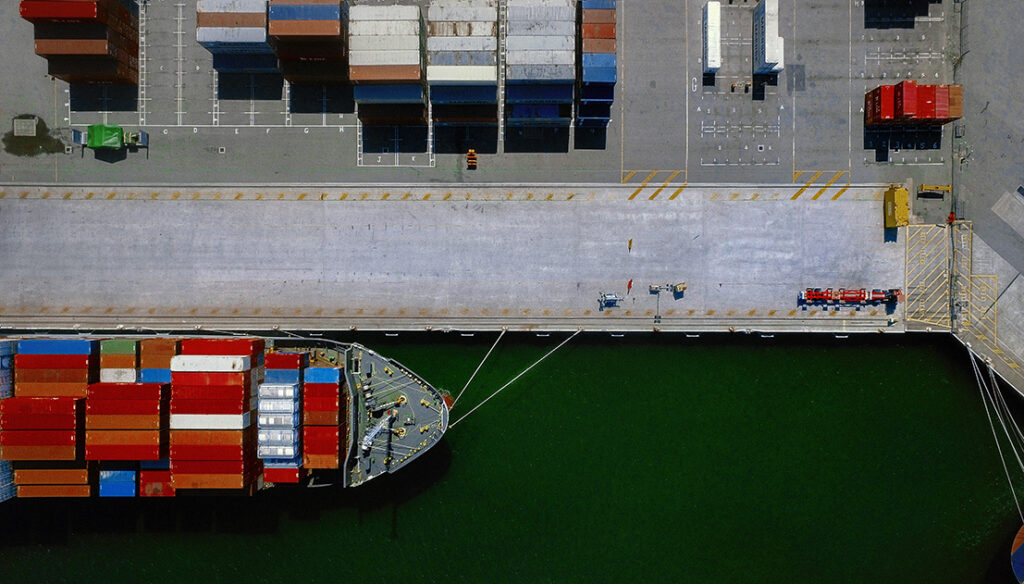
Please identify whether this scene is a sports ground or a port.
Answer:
port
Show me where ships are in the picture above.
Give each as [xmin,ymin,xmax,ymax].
[1010,525,1024,584]
[0,333,455,498]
